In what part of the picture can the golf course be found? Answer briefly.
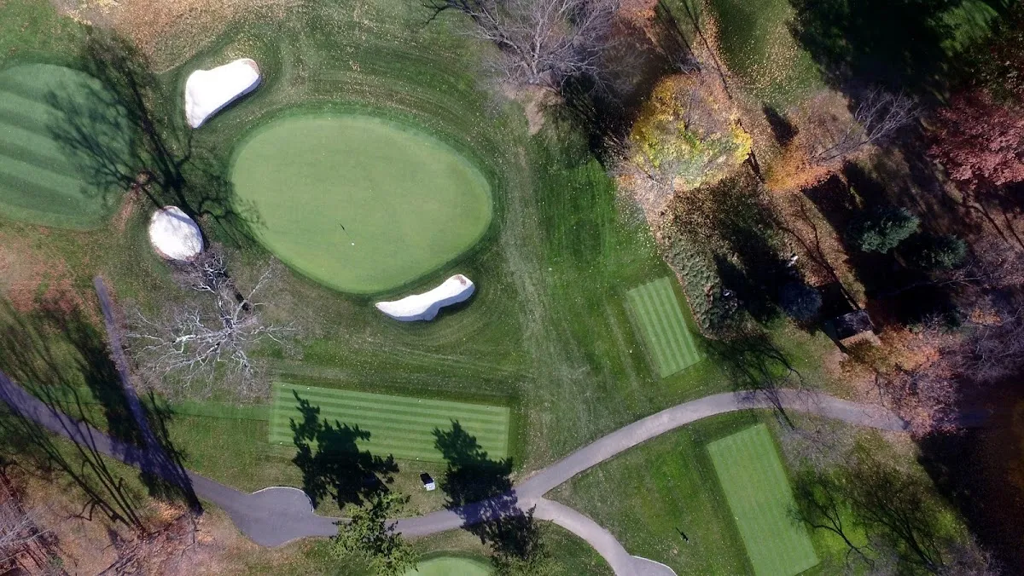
left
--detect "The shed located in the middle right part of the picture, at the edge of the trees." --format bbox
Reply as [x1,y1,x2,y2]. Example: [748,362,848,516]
[828,310,880,354]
